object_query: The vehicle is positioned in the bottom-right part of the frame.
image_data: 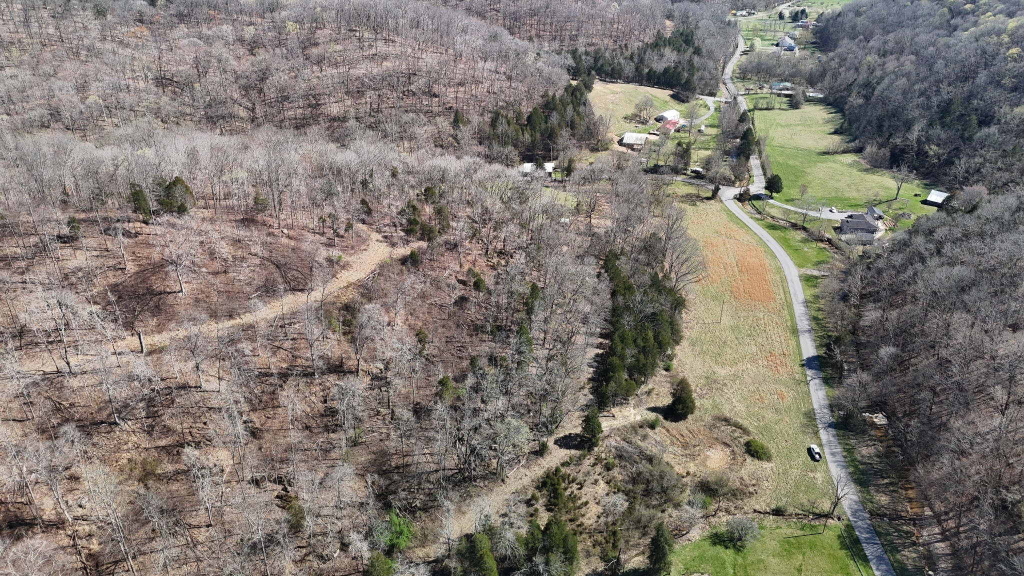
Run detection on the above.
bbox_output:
[809,443,824,461]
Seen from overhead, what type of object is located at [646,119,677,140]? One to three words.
barn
